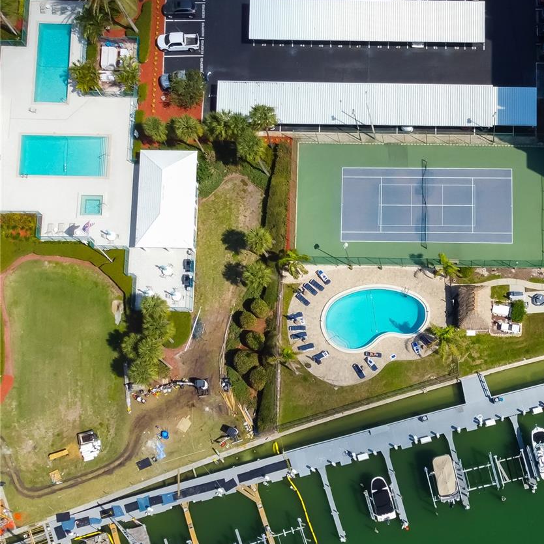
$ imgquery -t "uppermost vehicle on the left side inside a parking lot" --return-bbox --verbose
[162,0,197,17]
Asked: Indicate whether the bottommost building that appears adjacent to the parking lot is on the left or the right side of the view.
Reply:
left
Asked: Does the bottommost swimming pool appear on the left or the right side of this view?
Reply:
right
